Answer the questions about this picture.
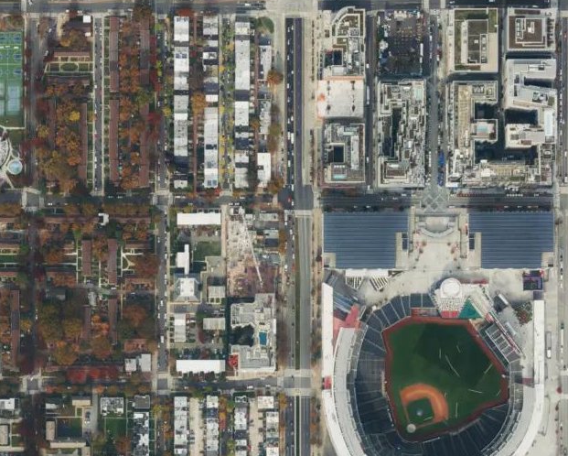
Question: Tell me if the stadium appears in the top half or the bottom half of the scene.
bottom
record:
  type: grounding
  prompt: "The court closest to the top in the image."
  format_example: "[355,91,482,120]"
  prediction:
[0,32,23,84]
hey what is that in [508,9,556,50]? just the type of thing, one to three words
building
